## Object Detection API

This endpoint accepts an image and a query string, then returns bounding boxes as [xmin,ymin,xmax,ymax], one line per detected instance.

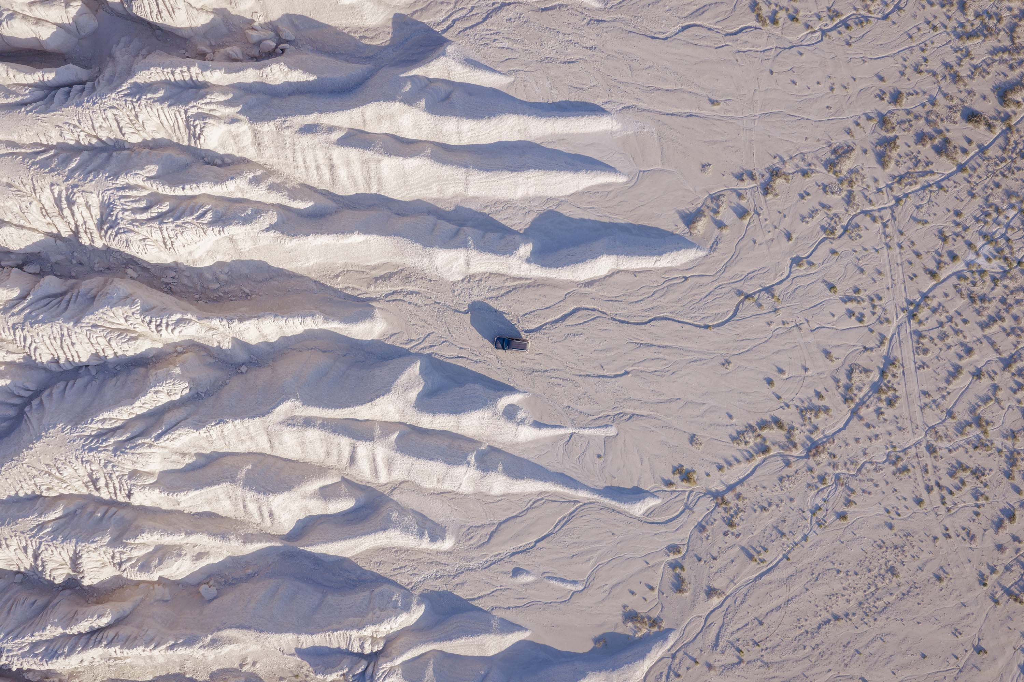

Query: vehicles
[492,335,532,353]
